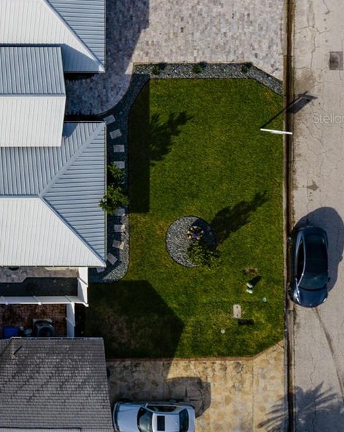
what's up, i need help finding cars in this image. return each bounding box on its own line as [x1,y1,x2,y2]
[293,225,337,307]
[111,397,195,432]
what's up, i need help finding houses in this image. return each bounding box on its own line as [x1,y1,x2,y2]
[0,332,113,432]
[0,0,108,269]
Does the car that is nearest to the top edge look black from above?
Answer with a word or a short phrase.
Yes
